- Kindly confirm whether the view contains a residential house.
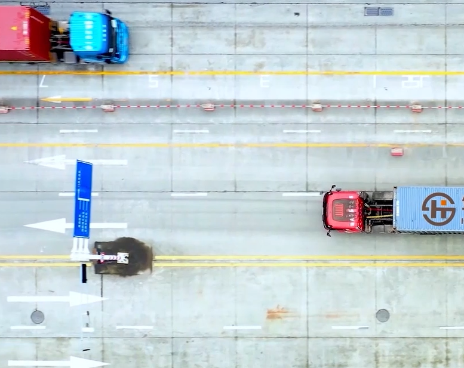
No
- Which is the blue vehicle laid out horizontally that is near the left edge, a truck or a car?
truck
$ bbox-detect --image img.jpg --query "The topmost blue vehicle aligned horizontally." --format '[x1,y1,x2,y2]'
[8,4,131,65]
